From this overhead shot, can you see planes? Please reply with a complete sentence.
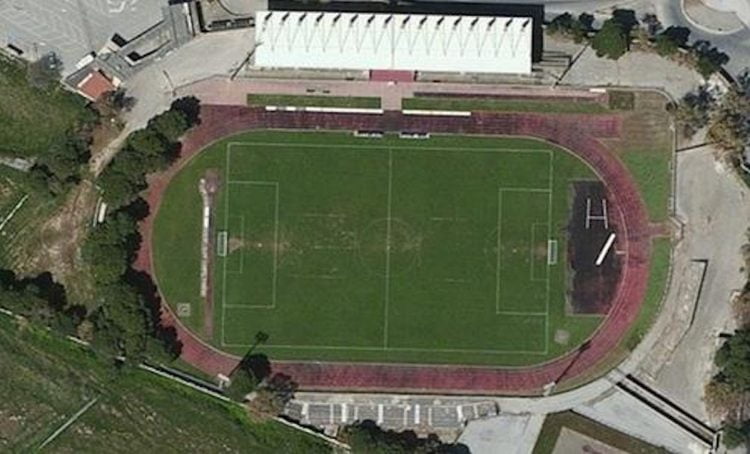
No, the frame has no plane in it.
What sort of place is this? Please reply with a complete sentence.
What you see here is a sports ground.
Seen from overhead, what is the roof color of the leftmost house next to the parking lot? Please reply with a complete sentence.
The roof over the leftmost house next to the parking lot appears red.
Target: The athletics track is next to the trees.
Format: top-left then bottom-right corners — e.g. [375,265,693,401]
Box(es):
[125,104,653,392]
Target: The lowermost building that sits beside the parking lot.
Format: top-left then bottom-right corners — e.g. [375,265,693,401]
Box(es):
[78,71,114,105]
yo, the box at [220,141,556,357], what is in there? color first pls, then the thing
green soccer field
